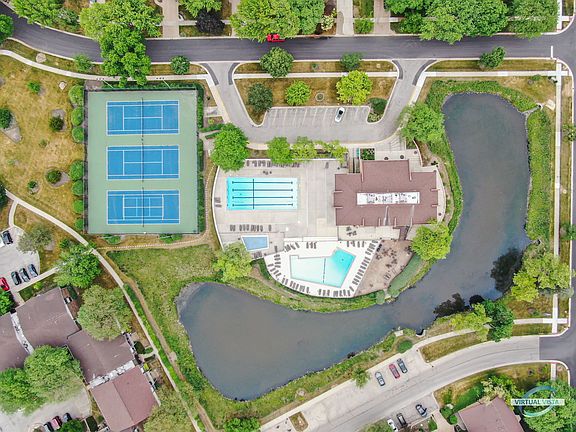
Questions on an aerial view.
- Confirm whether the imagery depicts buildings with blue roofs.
No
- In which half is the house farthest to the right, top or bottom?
bottom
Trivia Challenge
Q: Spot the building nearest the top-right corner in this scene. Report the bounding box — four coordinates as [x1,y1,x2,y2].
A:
[332,148,440,226]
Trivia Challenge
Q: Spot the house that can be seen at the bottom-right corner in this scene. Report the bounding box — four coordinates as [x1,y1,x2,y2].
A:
[455,394,517,432]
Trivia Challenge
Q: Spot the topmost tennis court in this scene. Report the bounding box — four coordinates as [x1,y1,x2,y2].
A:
[88,91,196,141]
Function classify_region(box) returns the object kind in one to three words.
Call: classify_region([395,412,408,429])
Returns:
vehicle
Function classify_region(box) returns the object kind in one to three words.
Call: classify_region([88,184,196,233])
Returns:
tennis court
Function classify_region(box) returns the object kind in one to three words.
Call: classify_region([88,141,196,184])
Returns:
tennis court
